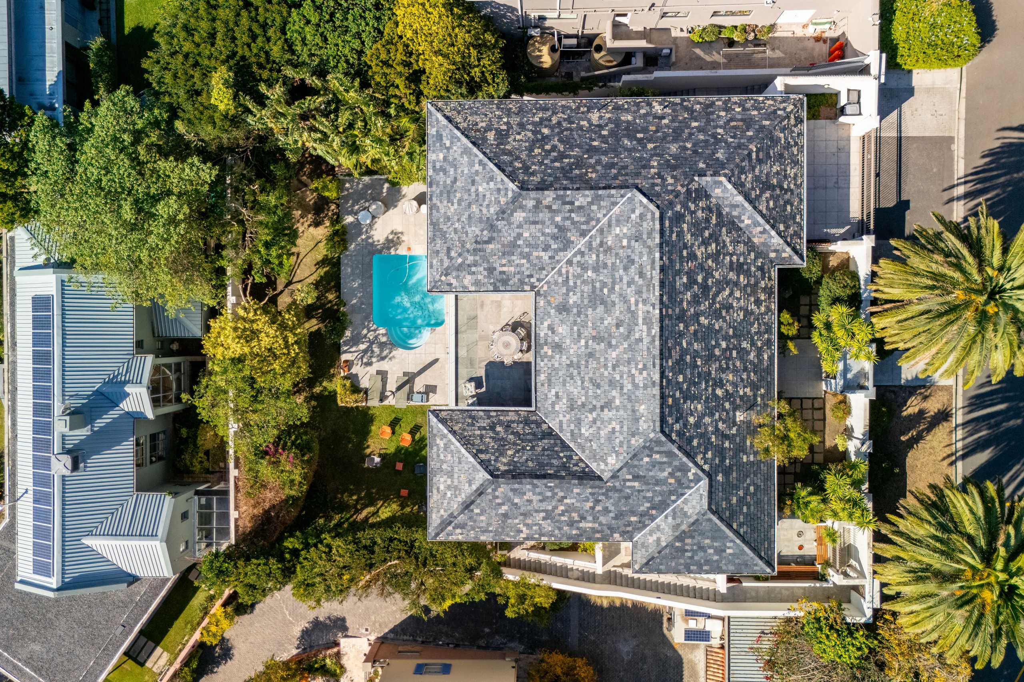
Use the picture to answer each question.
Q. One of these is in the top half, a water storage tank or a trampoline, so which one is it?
water storage tank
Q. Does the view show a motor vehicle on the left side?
No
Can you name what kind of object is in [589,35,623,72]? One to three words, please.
water tank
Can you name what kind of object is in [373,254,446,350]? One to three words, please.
swimming pool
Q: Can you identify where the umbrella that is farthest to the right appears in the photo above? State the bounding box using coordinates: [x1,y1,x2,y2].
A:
[379,390,396,403]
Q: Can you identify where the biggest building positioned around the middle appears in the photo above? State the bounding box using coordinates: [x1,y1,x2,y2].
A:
[425,92,808,577]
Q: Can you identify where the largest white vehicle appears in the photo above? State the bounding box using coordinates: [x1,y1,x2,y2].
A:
[666,607,723,647]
